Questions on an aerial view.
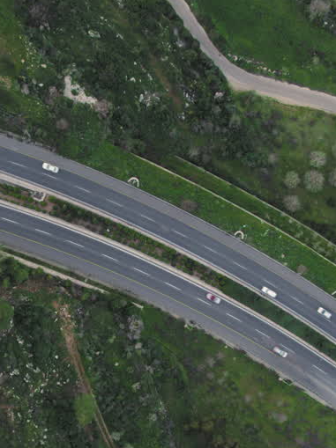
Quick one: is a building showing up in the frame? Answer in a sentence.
No, no building can be seen from above.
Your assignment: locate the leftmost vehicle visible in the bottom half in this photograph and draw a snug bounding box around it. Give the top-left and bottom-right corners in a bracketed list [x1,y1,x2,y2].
[205,292,221,304]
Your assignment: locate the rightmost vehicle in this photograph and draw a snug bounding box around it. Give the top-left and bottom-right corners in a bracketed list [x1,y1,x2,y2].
[317,306,333,319]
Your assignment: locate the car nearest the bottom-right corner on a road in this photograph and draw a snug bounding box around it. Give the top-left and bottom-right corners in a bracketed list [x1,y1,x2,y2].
[273,345,289,357]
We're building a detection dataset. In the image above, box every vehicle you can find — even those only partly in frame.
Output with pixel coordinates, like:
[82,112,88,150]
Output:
[317,306,333,319]
[42,162,58,173]
[273,345,289,357]
[261,286,279,299]
[205,292,221,304]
